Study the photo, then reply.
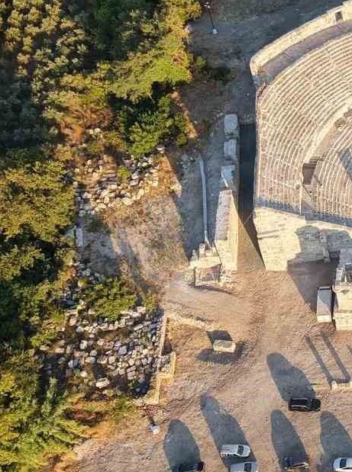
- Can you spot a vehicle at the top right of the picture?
No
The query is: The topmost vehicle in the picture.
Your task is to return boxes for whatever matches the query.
[288,396,321,412]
